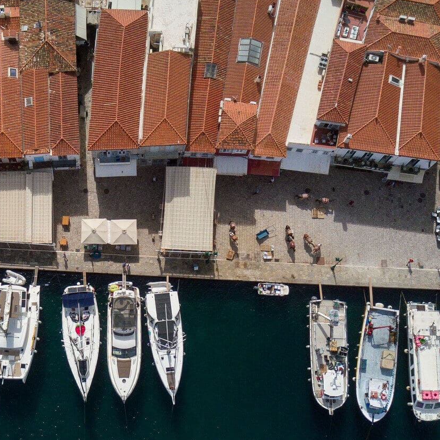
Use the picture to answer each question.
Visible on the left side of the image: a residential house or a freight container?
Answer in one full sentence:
Visible on the left side of the image is a residential house.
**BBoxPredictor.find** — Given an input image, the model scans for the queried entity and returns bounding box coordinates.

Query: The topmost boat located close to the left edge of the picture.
[4,271,26,286]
